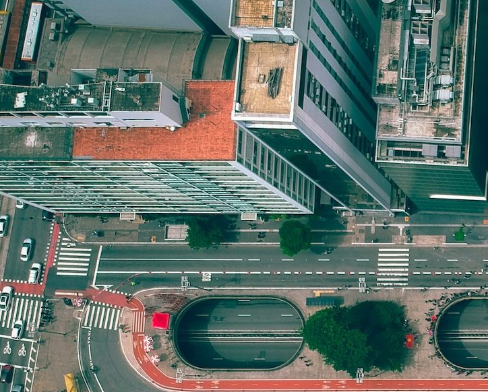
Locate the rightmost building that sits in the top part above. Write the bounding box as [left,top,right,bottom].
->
[374,0,488,214]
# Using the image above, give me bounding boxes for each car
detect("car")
[26,259,47,289]
[1,358,19,385]
[0,212,14,243]
[13,381,28,392]
[17,233,39,264]
[9,201,28,221]
[0,282,19,315]
[8,313,32,345]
